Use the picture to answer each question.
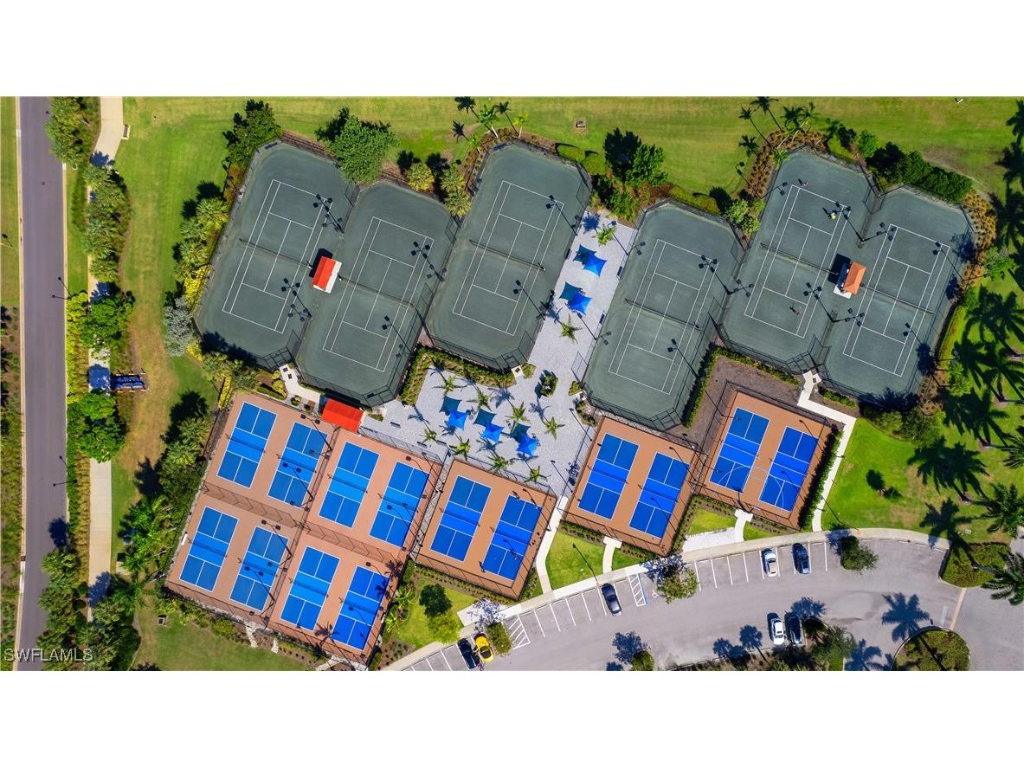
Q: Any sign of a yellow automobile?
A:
Yes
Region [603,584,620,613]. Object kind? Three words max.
car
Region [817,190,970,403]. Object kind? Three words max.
tennis court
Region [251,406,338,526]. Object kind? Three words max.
sports court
